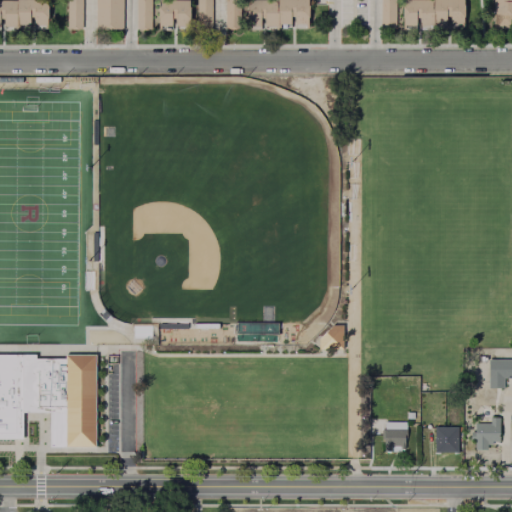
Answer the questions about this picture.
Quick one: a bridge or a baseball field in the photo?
baseball field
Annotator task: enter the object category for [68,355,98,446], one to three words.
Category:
building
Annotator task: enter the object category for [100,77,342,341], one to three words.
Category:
baseball field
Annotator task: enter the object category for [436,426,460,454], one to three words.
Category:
house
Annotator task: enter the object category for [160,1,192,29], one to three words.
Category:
building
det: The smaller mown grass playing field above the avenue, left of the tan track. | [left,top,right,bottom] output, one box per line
[144,354,348,456]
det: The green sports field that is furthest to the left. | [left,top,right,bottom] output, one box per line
[0,90,112,344]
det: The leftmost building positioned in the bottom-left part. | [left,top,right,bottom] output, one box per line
[0,355,68,447]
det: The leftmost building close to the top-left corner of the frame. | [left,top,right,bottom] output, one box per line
[0,0,50,30]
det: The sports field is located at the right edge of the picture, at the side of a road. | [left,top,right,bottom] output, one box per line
[361,77,512,392]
